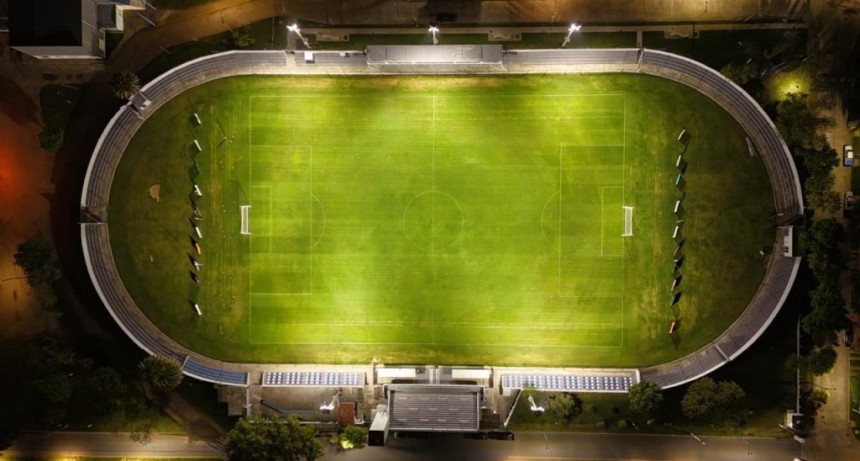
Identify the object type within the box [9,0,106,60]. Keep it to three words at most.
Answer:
building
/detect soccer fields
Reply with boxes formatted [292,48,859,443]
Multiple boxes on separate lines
[249,94,624,348]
